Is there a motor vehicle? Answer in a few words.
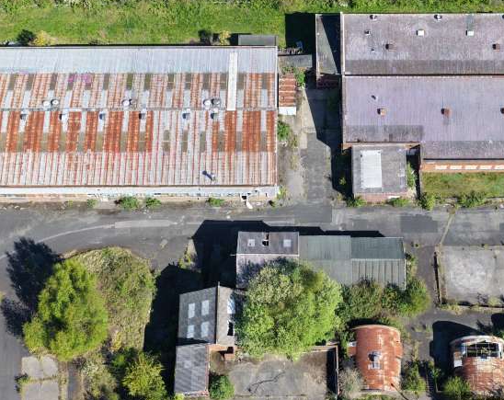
No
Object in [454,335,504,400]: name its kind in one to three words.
shed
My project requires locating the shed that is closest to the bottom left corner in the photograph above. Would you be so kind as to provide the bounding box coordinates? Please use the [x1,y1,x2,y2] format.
[174,348,212,399]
